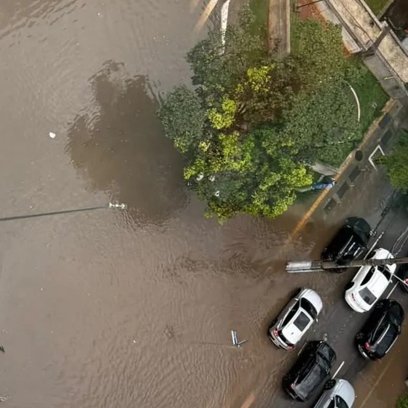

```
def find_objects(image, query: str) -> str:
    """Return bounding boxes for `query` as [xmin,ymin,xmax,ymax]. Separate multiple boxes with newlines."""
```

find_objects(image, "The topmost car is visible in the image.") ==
[323,215,366,264]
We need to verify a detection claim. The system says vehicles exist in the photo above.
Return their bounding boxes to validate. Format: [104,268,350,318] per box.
[316,382,352,408]
[347,251,390,311]
[323,215,366,264]
[358,302,402,361]
[285,340,335,404]
[268,288,319,352]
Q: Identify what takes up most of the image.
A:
water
